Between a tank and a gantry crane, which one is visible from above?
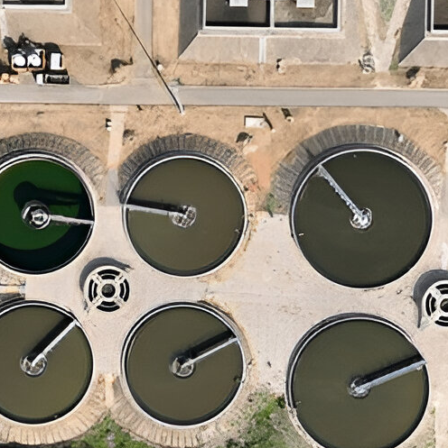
tank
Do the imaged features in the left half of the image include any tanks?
Yes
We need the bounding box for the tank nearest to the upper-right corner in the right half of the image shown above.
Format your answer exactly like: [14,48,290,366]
[272,127,443,295]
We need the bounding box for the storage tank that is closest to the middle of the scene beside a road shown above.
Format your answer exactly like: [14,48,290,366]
[116,132,268,284]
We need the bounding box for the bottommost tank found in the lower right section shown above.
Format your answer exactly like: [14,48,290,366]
[272,311,433,448]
